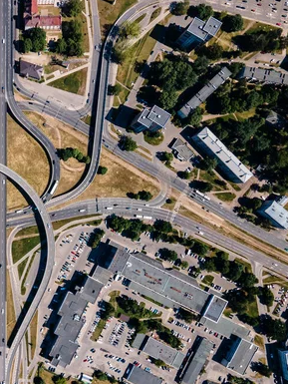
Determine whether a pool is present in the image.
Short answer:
No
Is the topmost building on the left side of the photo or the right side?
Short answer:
left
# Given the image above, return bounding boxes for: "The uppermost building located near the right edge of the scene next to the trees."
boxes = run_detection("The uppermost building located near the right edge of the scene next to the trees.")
[235,66,288,89]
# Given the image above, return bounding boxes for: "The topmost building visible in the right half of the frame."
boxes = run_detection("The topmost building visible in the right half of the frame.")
[176,16,222,51]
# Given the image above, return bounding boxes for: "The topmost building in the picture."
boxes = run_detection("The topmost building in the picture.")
[23,0,62,32]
